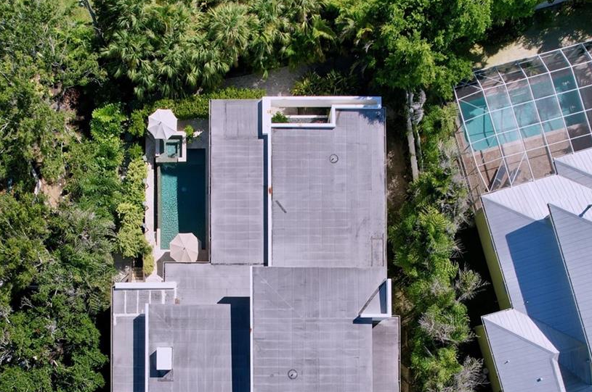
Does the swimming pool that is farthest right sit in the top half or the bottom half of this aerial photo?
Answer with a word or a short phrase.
top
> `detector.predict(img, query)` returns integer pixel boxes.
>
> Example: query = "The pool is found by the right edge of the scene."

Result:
[457,65,590,156]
